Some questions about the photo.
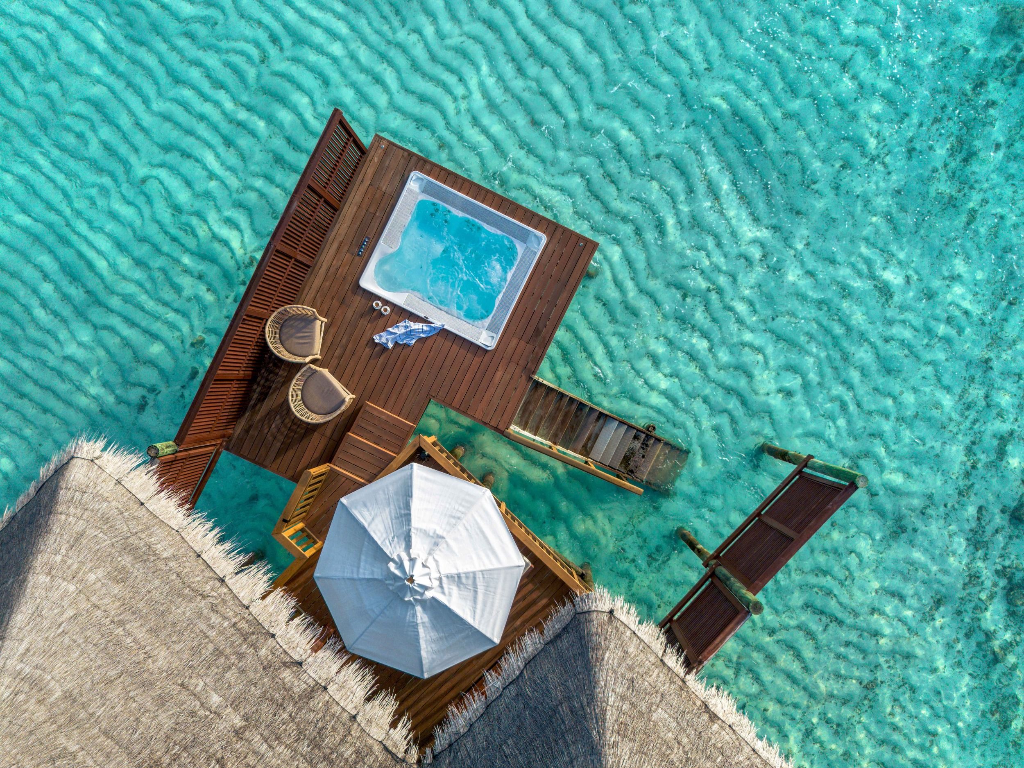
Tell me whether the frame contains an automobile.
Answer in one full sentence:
No, the frame has no automobile in it.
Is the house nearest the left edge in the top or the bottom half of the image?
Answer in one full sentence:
You can find the house nearest the left edge in the bottom half.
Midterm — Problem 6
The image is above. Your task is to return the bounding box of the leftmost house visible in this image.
[0,423,428,768]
